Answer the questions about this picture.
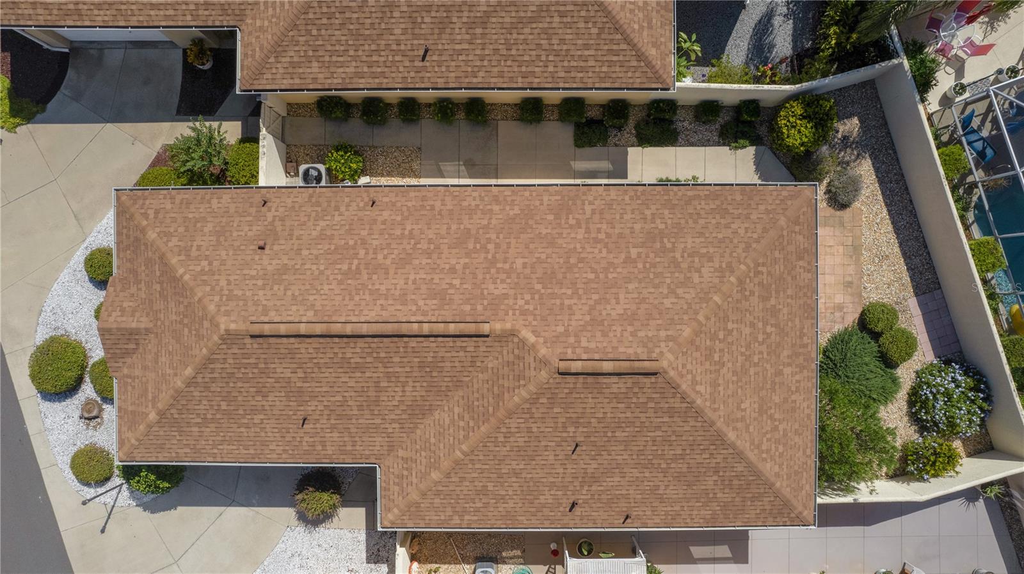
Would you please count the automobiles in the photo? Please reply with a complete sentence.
There are no automobiles in the image.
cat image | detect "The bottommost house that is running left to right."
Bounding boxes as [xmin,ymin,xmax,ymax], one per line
[95,186,818,529]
